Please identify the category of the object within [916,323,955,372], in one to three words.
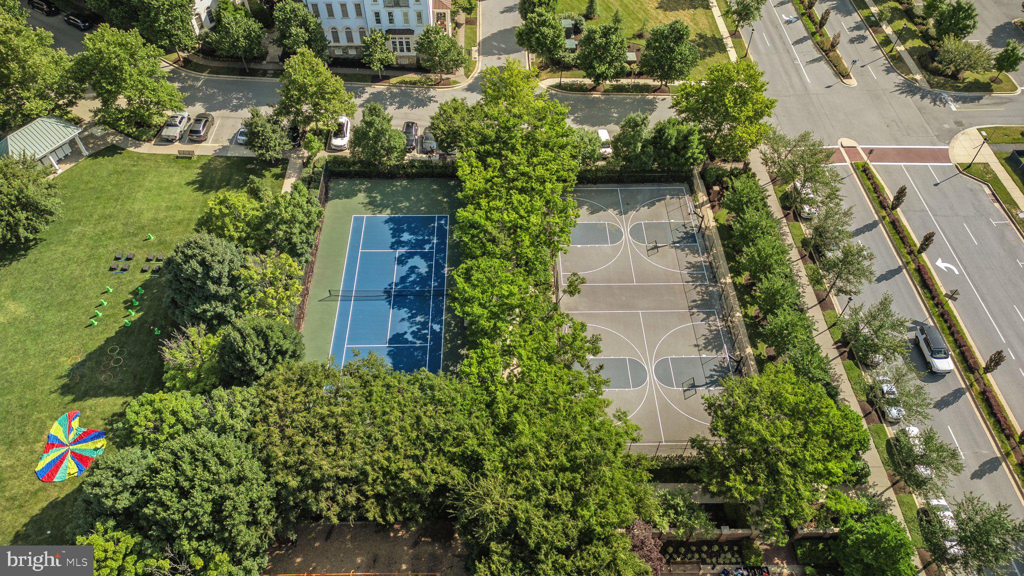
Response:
car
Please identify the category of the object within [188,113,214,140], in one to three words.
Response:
car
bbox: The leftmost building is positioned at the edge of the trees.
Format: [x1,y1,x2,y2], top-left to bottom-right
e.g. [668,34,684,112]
[0,111,86,184]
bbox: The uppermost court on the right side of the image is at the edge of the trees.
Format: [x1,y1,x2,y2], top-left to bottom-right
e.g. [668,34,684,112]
[549,180,721,298]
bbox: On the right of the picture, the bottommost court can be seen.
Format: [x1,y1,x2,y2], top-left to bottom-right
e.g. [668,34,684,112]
[559,296,747,451]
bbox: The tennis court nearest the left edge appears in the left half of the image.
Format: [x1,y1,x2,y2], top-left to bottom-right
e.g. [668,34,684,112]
[280,178,477,451]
